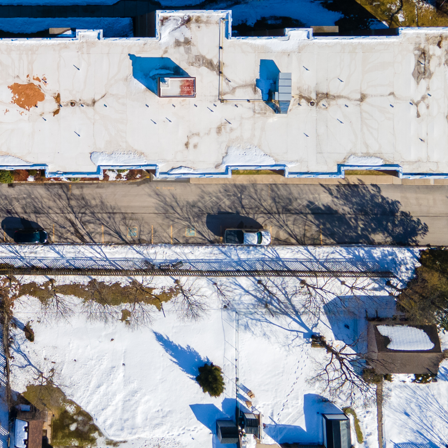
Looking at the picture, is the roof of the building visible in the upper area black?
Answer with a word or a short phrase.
No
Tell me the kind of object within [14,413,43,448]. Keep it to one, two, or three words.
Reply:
shed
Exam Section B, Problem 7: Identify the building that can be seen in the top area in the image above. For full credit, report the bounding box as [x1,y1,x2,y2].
[0,10,448,184]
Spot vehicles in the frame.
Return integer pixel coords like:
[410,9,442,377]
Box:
[14,228,47,245]
[224,228,269,246]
